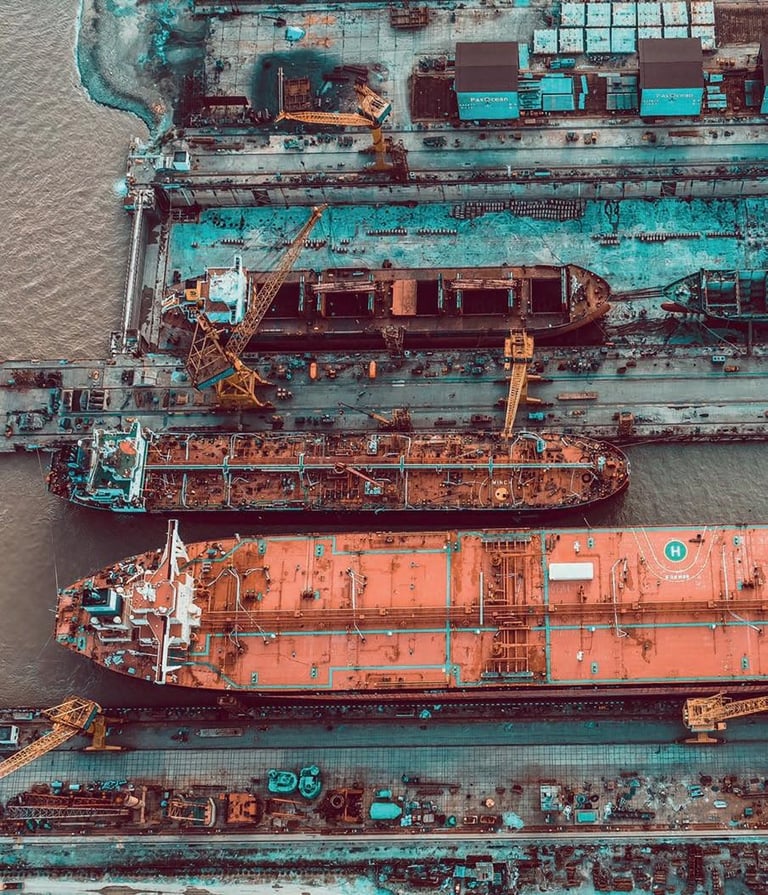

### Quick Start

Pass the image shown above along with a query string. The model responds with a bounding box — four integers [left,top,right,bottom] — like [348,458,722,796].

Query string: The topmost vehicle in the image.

[262,15,289,30]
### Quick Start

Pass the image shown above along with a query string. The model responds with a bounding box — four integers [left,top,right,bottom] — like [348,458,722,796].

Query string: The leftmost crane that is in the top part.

[190,201,328,413]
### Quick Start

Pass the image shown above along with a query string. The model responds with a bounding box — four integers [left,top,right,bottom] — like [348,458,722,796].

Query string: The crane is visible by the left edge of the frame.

[0,676,125,780]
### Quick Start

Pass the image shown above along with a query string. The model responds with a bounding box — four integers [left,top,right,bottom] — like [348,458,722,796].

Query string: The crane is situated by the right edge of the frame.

[680,688,768,742]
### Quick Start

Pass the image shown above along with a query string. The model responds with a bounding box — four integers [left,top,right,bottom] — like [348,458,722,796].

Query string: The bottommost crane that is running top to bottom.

[502,323,541,441]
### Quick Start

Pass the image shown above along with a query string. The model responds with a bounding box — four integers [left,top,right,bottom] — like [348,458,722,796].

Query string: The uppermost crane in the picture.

[273,77,399,167]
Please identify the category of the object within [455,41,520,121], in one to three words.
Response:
shed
